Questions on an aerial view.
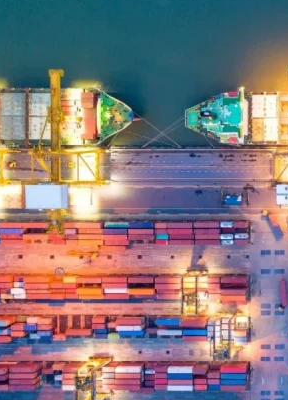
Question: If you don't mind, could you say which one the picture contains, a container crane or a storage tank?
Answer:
container crane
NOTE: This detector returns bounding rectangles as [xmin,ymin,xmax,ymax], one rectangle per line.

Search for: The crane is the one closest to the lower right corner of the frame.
[210,312,243,368]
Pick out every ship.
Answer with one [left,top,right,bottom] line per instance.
[185,88,288,147]
[0,87,139,147]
